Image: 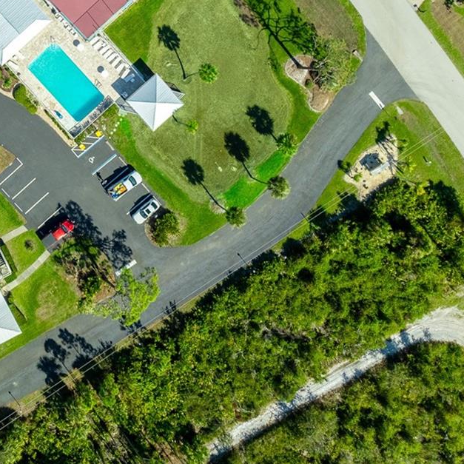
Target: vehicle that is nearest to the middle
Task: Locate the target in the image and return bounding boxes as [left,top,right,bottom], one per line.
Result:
[133,198,160,224]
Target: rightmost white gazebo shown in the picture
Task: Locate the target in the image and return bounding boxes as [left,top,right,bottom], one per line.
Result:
[125,73,184,132]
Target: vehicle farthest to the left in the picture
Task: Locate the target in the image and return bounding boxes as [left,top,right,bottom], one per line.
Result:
[40,219,76,249]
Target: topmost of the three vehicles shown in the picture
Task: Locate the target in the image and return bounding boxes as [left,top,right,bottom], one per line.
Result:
[109,171,143,202]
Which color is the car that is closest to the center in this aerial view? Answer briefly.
white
